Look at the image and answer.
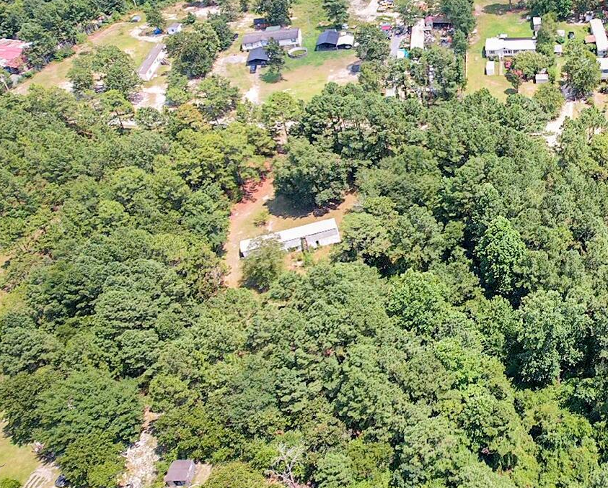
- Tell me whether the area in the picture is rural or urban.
rural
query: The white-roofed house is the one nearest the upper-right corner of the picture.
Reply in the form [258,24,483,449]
[581,18,608,57]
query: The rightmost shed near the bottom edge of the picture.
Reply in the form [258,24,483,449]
[159,450,195,488]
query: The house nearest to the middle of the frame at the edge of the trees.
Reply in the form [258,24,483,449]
[236,217,341,265]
